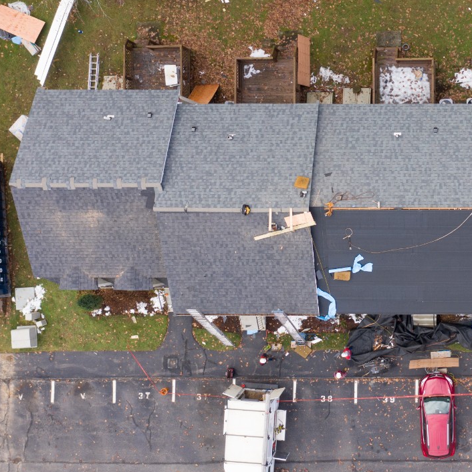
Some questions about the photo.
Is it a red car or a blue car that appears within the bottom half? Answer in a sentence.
It is a red car that can be seen within the bottom half.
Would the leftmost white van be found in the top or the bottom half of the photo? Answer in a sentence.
The leftmost white van sits in the bottom half of the picture.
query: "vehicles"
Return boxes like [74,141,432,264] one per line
[217,385,290,472]
[416,370,459,457]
